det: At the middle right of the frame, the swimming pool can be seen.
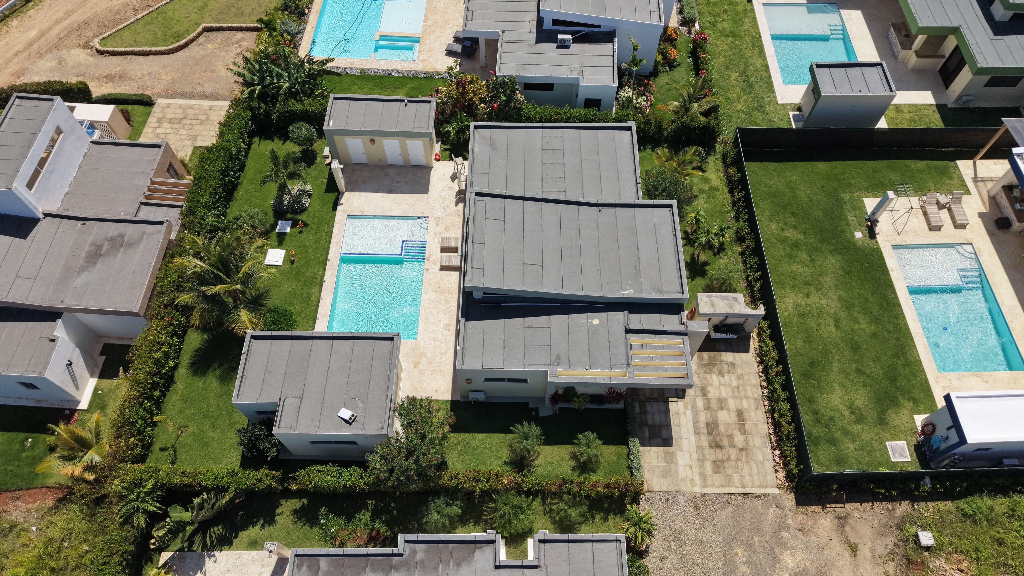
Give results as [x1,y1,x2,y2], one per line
[893,243,1024,372]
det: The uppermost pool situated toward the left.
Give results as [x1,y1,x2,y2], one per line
[309,0,426,57]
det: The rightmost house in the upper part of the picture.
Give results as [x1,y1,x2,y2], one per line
[988,145,1024,196]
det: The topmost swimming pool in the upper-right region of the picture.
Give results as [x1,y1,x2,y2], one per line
[762,2,859,84]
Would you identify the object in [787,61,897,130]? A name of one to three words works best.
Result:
shed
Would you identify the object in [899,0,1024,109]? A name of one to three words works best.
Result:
building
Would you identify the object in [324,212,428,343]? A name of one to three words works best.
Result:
swimming pool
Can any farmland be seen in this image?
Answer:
No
